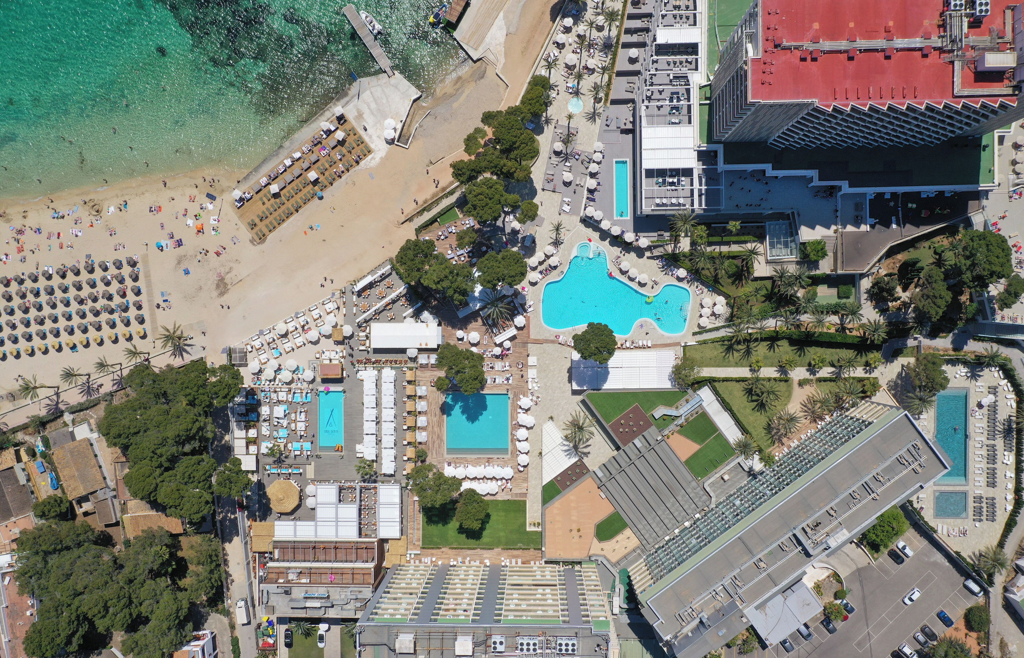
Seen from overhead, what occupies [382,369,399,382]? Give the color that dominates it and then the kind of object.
white umbrella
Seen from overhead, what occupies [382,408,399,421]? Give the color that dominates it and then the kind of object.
white umbrella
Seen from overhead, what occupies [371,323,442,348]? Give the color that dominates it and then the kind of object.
white tent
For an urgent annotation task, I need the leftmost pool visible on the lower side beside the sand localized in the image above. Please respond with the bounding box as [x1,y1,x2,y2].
[317,390,345,455]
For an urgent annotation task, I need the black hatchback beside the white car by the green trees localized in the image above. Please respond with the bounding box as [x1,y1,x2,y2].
[887,548,904,565]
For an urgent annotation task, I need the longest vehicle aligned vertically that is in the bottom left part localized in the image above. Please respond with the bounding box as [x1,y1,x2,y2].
[235,598,249,629]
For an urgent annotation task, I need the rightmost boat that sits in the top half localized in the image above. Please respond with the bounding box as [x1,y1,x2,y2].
[429,3,449,30]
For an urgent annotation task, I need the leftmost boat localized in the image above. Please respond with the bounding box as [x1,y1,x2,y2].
[362,10,385,38]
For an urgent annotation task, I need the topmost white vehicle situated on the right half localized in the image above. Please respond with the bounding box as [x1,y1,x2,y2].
[896,540,914,558]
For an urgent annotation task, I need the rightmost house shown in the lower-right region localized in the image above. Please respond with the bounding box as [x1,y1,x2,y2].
[989,552,1024,625]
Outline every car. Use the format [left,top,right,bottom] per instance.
[837,612,851,625]
[780,637,795,654]
[912,631,929,648]
[796,625,814,642]
[964,578,983,598]
[896,540,914,558]
[888,646,904,658]
[317,630,326,648]
[919,624,936,641]
[936,610,954,628]
[839,600,856,615]
[283,629,293,648]
[820,617,838,635]
[898,642,917,658]
[887,548,904,565]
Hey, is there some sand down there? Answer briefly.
Yes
